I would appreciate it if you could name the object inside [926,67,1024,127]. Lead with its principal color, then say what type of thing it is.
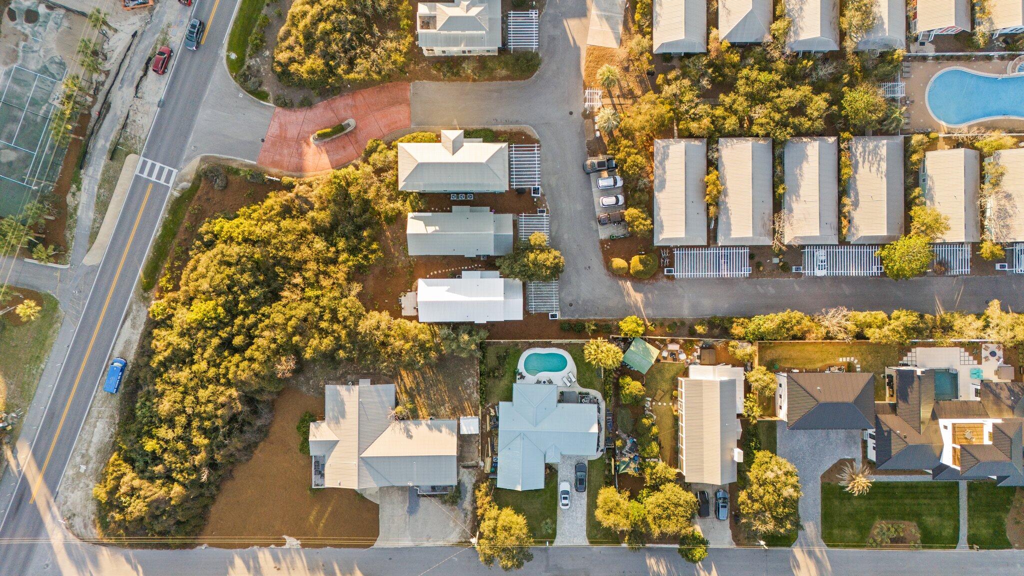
blue swimming pool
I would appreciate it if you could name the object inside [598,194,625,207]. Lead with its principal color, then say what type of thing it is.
white vehicle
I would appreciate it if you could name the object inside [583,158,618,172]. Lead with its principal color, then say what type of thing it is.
gray vehicle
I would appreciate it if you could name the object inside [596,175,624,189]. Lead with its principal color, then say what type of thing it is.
white car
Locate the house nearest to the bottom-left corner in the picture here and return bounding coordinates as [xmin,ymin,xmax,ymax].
[307,379,457,495]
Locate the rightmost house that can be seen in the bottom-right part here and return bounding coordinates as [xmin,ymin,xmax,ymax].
[866,367,1024,488]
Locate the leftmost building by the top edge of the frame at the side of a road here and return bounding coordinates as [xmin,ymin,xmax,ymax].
[418,0,502,49]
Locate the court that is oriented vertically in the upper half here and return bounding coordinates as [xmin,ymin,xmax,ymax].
[0,0,67,220]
